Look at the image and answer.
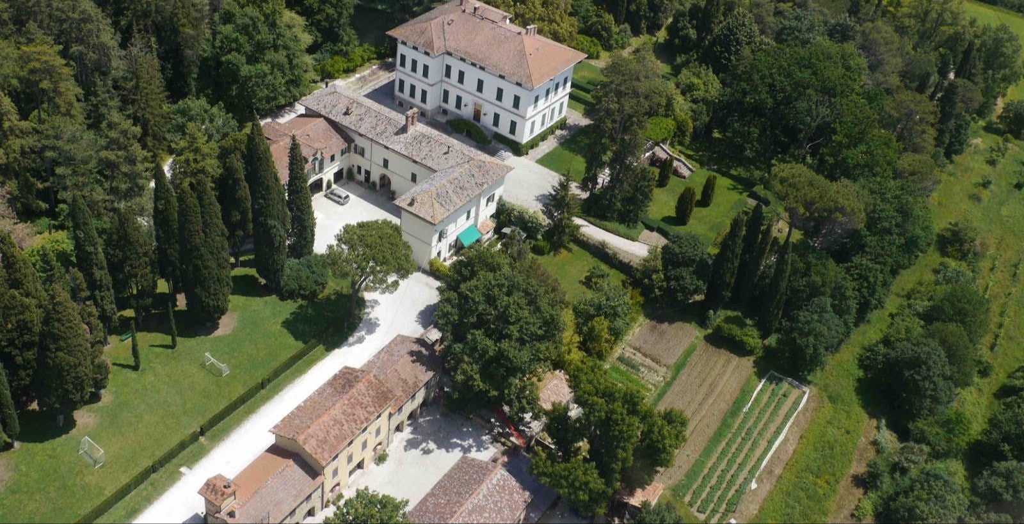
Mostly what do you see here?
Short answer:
trees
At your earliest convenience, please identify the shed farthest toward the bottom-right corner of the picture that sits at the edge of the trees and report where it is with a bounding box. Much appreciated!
[623,478,665,514]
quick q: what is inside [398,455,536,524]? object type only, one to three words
barn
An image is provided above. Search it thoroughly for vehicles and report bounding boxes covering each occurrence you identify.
[323,189,353,205]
